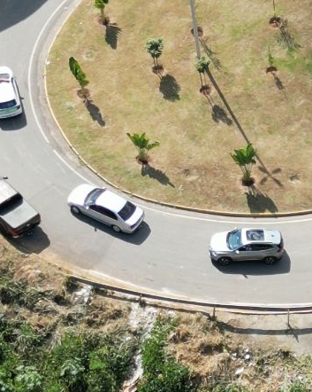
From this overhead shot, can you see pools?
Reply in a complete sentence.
No, no pool is visible in the view.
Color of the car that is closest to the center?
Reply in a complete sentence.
From above, the car that is closest to the center appears white.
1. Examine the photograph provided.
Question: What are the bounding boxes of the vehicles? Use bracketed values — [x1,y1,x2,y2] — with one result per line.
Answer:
[205,224,288,267]
[0,70,22,128]
[0,178,40,245]
[63,182,143,238]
